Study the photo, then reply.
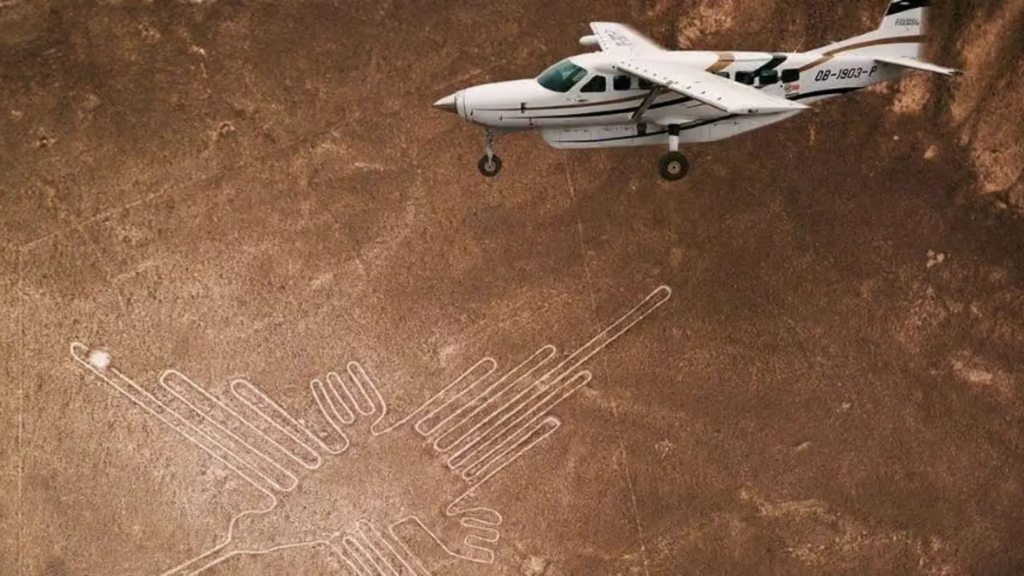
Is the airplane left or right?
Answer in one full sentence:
The airplane is on the right side of the image.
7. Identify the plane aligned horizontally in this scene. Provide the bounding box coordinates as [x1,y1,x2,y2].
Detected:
[433,0,963,179]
